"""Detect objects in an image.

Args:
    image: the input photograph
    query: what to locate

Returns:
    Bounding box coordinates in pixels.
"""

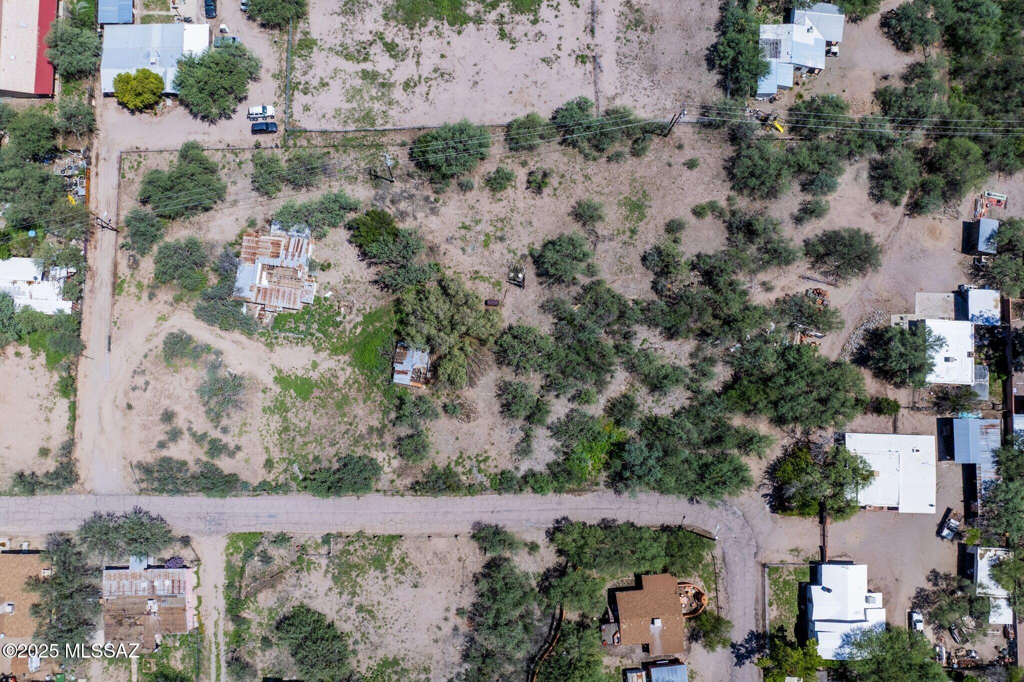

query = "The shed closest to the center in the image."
[393,343,431,388]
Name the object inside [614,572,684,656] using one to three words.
house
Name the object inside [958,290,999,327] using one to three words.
shed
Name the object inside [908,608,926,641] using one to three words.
vehicle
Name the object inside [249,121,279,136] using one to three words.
car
